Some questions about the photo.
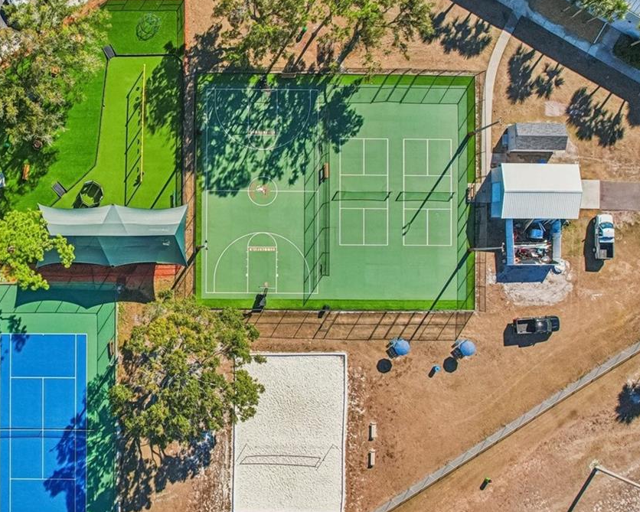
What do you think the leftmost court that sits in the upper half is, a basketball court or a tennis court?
basketball court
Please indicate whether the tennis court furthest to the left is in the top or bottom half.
bottom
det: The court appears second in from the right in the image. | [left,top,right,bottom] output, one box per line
[337,139,392,245]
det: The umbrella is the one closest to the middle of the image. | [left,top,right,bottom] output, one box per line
[394,340,409,355]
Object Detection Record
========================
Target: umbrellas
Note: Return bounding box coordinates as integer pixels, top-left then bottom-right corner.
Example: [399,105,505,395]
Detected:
[459,341,475,356]
[394,340,409,355]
